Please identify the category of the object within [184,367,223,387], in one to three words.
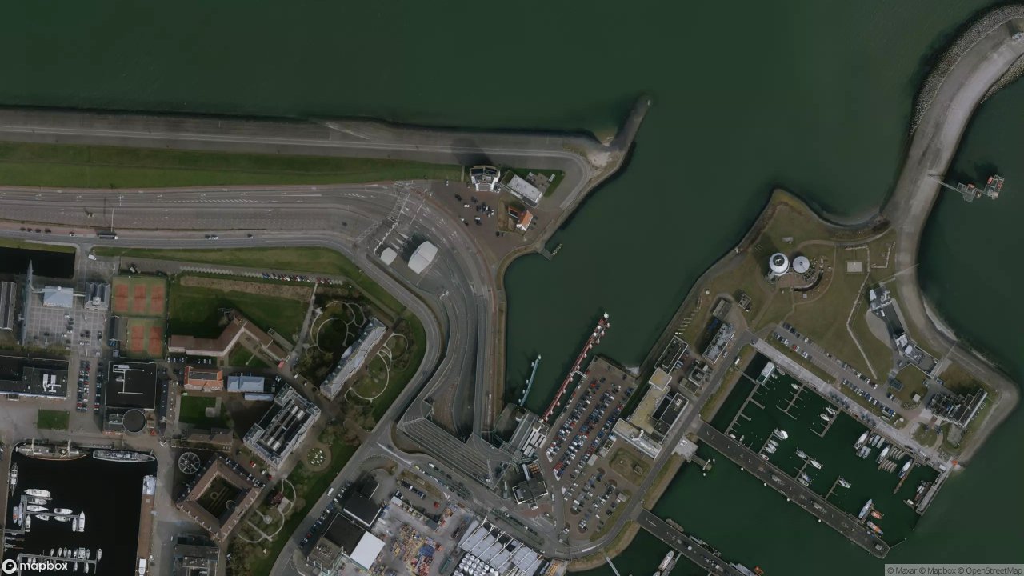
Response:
house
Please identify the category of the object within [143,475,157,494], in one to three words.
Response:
vessel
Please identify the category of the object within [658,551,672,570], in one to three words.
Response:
ship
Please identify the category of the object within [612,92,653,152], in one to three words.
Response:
pier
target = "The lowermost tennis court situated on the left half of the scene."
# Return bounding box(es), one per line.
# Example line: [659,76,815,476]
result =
[125,318,166,358]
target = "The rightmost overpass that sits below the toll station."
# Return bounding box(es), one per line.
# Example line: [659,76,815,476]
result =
[397,297,518,489]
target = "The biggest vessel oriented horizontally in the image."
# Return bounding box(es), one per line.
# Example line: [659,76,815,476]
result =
[17,443,88,460]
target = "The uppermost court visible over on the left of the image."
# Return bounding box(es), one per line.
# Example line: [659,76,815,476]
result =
[111,276,168,317]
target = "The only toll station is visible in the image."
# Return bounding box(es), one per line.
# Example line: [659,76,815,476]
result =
[375,195,425,250]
